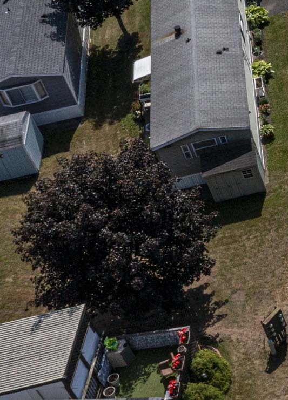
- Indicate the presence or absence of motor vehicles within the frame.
No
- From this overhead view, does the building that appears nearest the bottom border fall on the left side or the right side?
left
